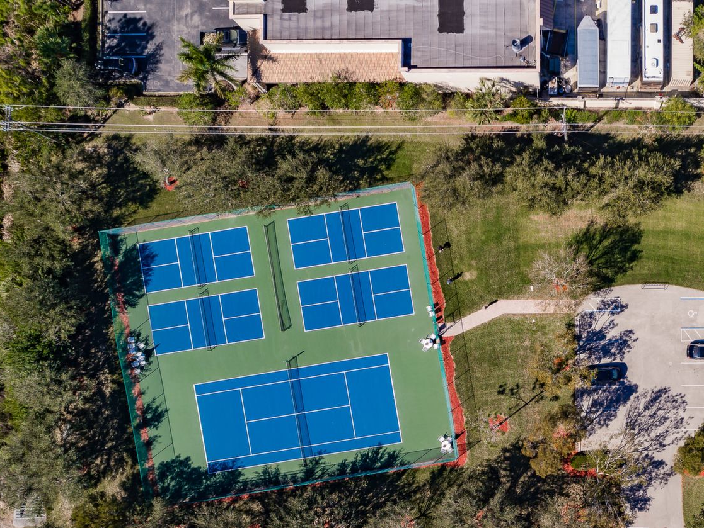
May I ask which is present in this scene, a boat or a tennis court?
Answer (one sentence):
Looking from above, you can make out a tennis court.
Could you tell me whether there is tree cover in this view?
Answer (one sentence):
Yes, the picture does contain tree cover.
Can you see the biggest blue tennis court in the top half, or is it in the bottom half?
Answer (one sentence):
It is in the bottom half that the biggest blue tennis court appears.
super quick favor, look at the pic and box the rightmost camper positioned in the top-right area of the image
[639,0,663,94]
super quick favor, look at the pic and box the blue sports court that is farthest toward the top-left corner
[138,227,254,293]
